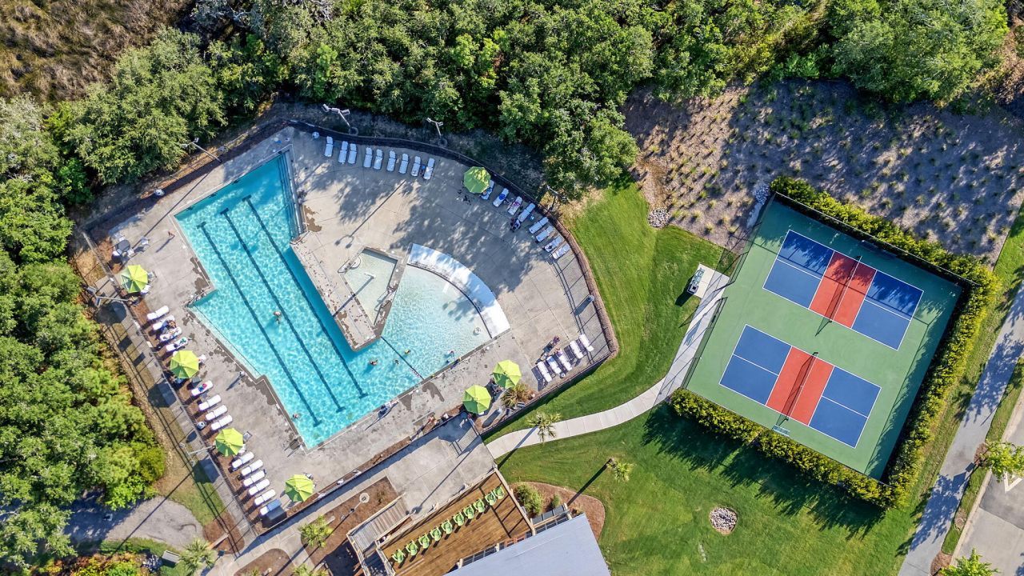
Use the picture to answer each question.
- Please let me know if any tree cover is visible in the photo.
Yes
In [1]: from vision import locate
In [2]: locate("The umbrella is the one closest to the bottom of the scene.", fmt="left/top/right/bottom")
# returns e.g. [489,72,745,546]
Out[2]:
[287,473,315,502]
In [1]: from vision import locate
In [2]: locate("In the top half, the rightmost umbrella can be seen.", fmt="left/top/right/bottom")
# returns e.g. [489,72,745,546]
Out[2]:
[463,166,492,195]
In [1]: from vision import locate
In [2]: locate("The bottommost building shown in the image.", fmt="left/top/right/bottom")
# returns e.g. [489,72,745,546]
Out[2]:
[440,502,610,576]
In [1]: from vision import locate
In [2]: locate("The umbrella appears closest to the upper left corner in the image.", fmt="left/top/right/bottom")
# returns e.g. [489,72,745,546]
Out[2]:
[121,264,151,293]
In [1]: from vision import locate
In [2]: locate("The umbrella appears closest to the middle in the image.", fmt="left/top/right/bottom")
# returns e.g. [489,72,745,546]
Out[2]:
[493,360,521,388]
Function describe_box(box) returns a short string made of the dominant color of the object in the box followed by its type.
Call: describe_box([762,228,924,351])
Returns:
blue sports court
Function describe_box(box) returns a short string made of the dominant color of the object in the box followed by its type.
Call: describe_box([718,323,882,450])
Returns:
blue sports court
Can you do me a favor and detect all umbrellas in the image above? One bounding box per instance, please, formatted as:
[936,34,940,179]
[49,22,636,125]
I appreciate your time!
[171,348,200,378]
[216,426,246,455]
[463,166,492,195]
[287,473,315,502]
[493,360,521,388]
[462,384,492,413]
[121,264,151,293]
